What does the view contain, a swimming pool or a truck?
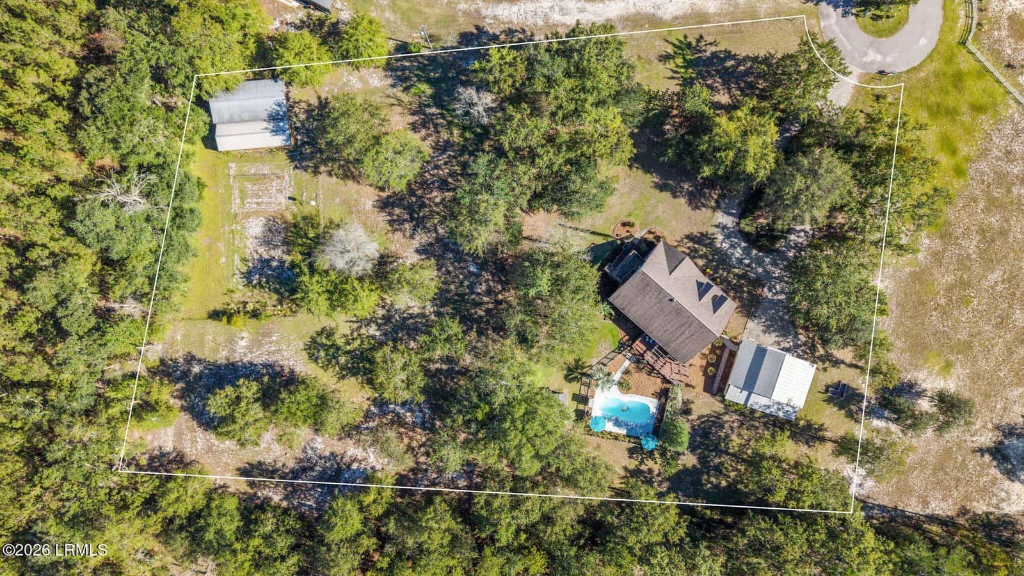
swimming pool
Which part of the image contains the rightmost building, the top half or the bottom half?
bottom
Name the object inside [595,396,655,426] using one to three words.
swimming pool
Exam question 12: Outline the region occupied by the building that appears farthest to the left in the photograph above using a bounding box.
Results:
[210,79,297,154]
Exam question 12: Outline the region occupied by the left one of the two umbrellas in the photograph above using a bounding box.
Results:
[589,415,606,432]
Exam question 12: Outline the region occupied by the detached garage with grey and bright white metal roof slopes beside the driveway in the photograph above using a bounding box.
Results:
[723,339,816,422]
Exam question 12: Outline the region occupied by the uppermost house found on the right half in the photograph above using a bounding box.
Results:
[608,239,736,365]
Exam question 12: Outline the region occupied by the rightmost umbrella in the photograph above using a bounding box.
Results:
[641,434,657,450]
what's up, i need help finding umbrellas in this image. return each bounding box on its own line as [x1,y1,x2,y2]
[641,434,657,450]
[589,415,606,432]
